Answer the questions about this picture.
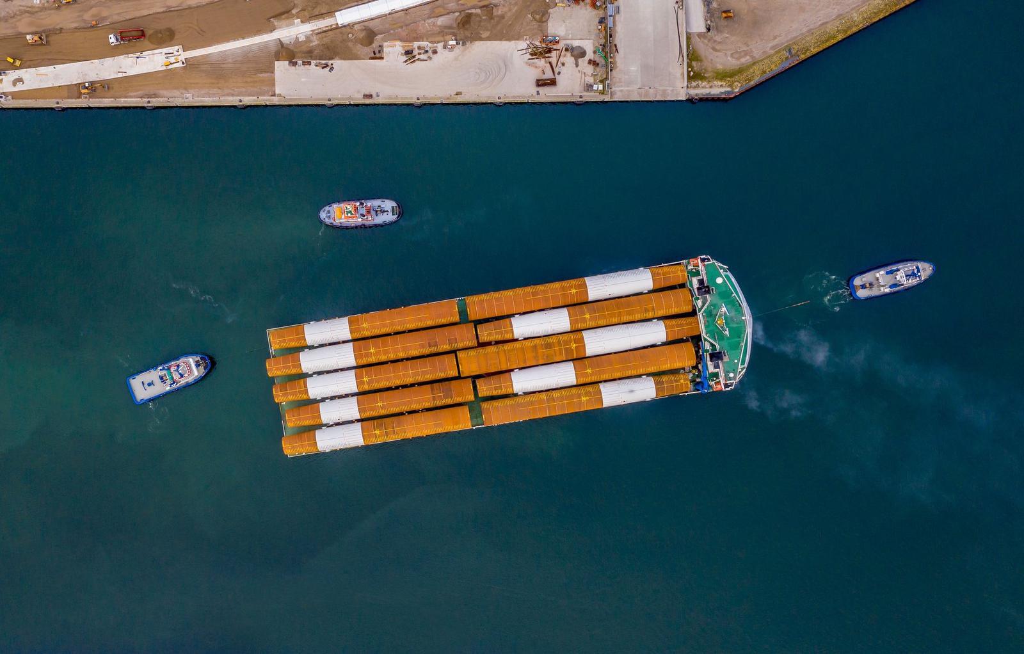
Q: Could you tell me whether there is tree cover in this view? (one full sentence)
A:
No, there is no tree cover in the image.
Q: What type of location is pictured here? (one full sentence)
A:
It's a port.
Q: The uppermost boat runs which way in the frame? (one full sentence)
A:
What the image shows is the uppermost boat lying from side to side.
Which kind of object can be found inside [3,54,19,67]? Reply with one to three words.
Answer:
vehicle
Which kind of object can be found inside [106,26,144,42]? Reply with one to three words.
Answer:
vehicle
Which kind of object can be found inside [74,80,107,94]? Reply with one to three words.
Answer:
work vehicle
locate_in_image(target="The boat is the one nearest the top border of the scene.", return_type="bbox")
[319,199,402,230]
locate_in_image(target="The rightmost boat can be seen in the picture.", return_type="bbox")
[849,260,936,300]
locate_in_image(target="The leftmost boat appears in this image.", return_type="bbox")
[126,354,212,405]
